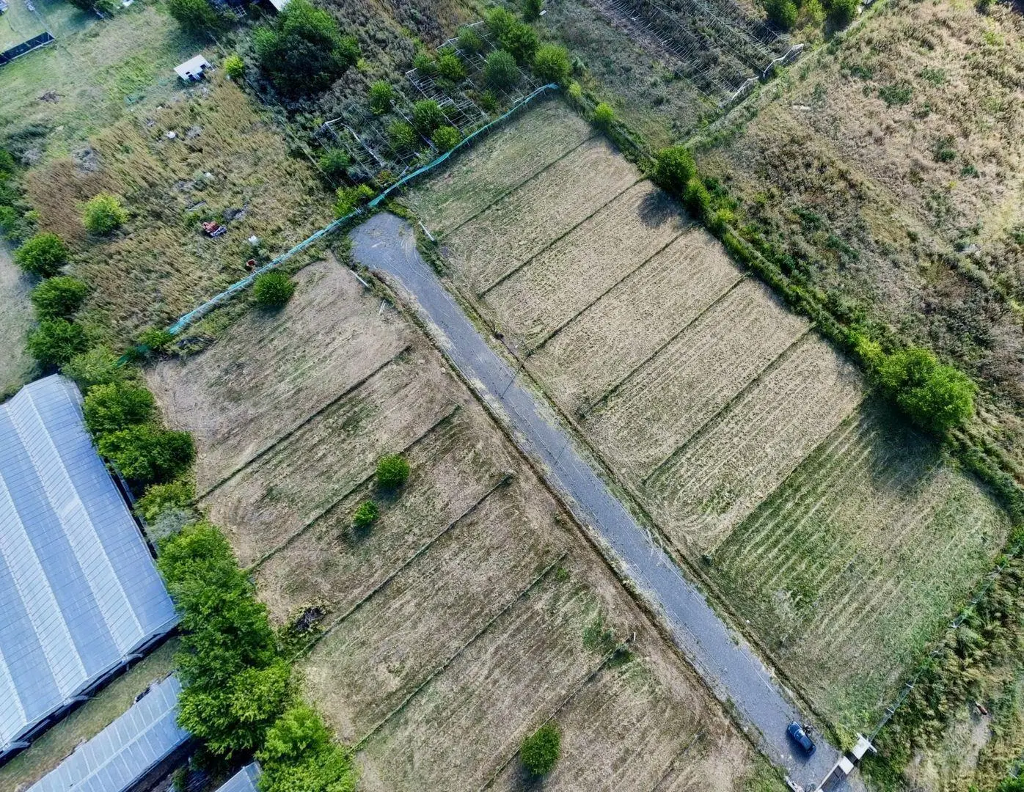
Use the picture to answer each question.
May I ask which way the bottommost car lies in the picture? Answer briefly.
at an angle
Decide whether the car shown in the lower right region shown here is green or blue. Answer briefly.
blue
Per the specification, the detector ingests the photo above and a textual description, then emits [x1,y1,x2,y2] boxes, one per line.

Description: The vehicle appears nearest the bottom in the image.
[784,718,819,759]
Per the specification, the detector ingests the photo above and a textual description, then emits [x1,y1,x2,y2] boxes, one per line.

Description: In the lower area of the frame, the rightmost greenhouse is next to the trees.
[214,762,267,792]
